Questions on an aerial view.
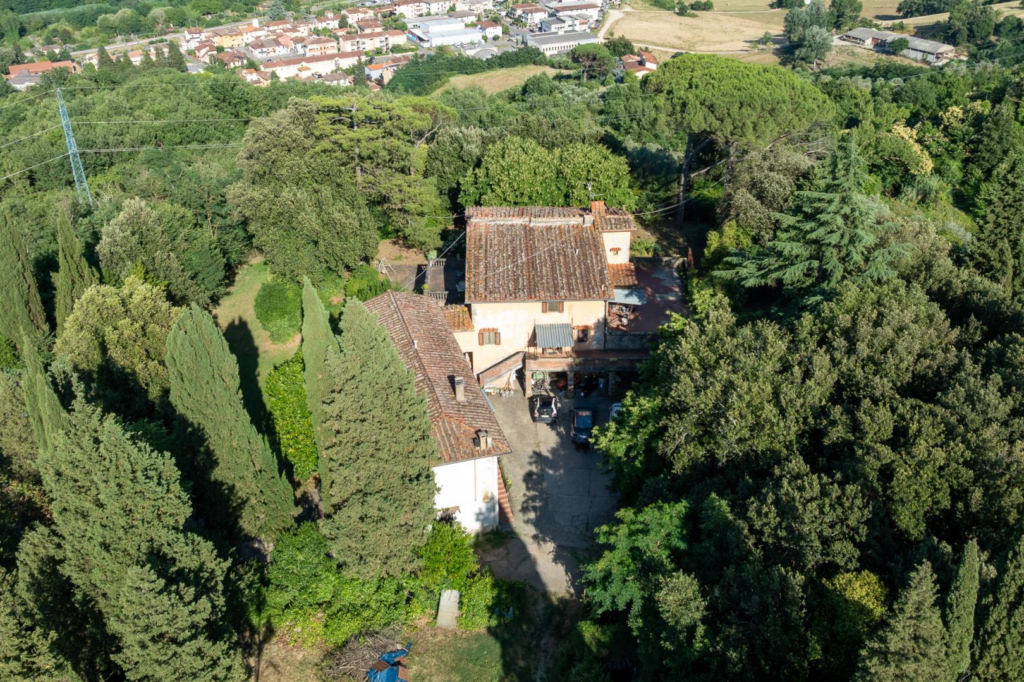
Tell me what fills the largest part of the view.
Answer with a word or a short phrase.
trees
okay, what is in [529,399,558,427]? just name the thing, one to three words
car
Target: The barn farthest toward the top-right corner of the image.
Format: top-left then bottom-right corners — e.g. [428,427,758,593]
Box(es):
[896,35,960,61]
